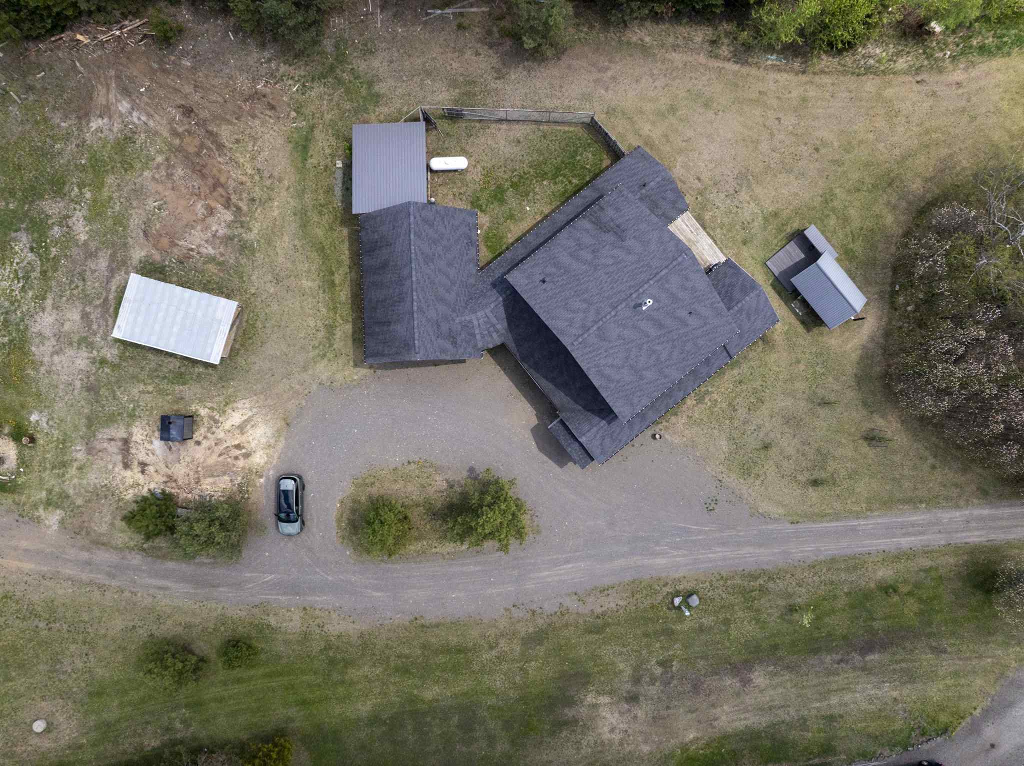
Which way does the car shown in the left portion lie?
vertically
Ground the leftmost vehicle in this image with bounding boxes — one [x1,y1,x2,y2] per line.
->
[274,473,306,536]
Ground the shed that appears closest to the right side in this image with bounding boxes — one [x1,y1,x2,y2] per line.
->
[789,225,867,330]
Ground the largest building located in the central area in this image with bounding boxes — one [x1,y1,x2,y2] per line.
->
[358,144,781,469]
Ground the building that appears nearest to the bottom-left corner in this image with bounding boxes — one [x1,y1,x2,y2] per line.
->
[160,415,195,441]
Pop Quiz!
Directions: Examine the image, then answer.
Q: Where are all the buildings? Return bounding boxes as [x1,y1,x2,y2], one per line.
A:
[789,225,867,330]
[160,415,195,441]
[358,144,781,469]
[112,274,248,364]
